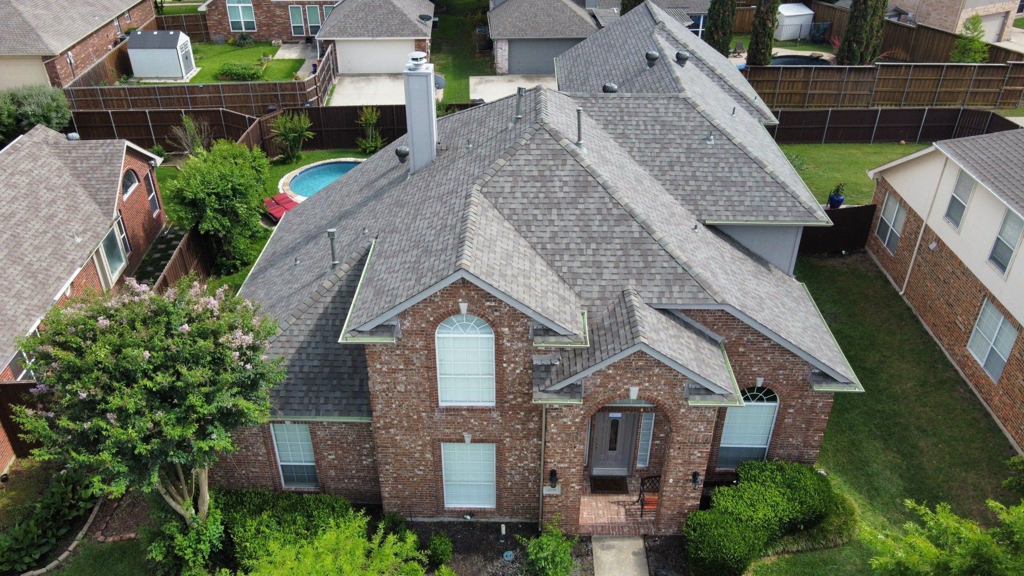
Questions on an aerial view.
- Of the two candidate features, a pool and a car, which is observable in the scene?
pool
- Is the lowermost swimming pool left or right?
left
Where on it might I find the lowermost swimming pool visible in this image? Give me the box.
[279,156,372,198]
